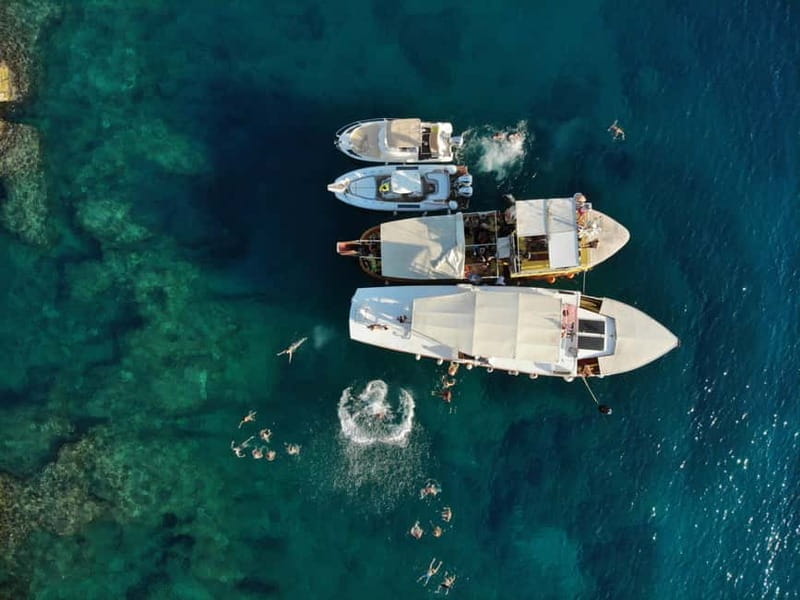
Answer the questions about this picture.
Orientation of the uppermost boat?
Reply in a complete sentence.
I'd say the uppermost boat is aligned from side to side in the picture.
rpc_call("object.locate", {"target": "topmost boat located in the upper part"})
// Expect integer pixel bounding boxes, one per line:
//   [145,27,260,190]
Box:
[334,119,464,163]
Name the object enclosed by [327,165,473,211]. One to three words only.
boat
